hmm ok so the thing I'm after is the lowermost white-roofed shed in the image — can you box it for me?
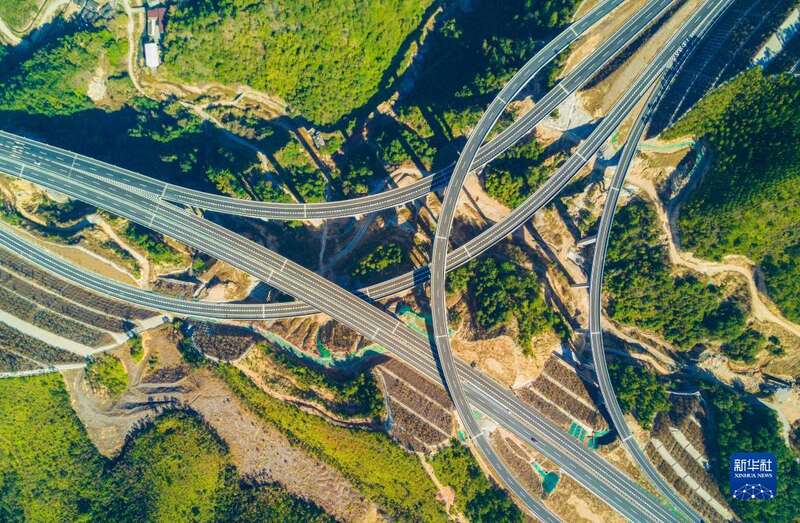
[145,42,160,69]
